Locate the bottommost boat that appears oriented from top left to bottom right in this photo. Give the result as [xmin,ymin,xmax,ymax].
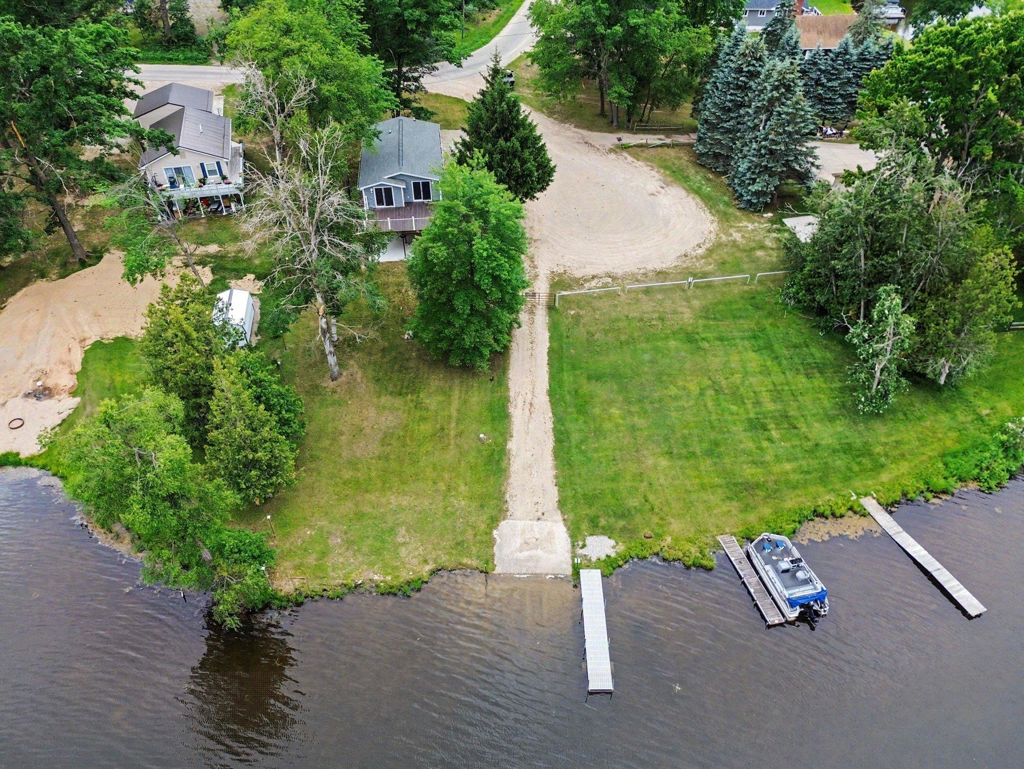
[748,533,834,629]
